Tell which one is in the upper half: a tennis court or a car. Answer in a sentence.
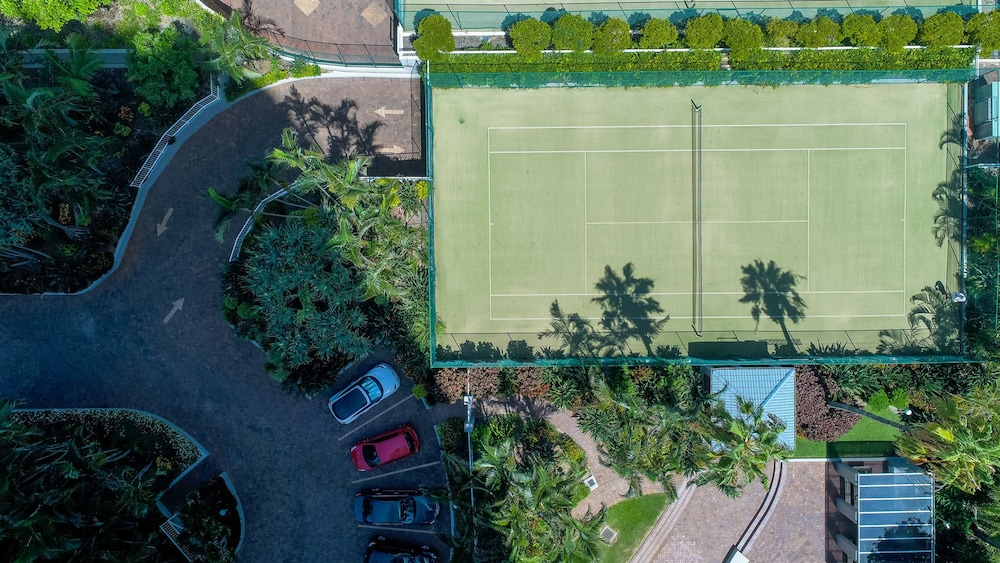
What appears in the upper half is a tennis court.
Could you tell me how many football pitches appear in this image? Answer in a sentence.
Not a single football pitch can be seen.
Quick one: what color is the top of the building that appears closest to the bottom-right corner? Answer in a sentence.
The color of the roof on the building that appears closest to the bottom-right corner is blue.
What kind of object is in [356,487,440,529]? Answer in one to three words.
car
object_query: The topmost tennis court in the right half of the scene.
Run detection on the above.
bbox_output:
[404,0,980,31]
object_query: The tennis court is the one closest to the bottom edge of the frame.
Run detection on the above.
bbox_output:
[431,82,970,360]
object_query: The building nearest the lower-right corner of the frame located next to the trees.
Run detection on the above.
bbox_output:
[835,461,935,563]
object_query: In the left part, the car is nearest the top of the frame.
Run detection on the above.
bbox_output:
[324,360,404,425]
